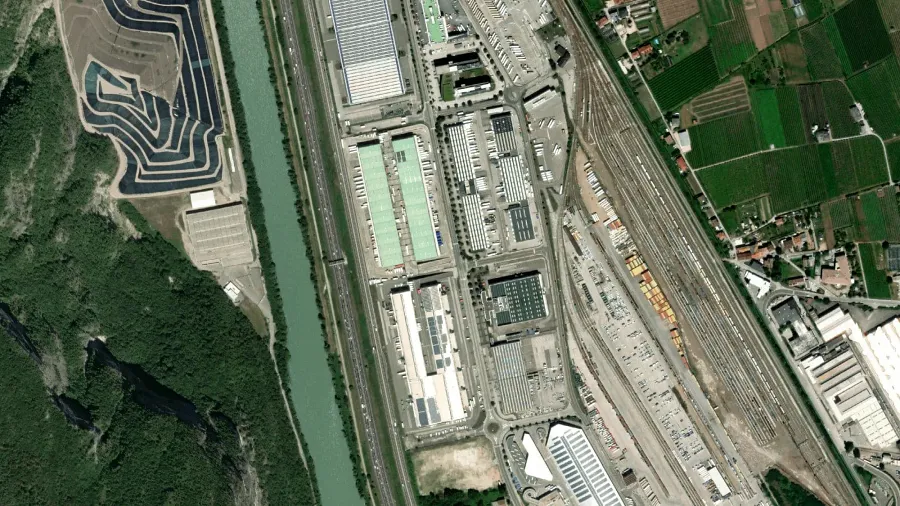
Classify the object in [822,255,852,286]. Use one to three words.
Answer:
building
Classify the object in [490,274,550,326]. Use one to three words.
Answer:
building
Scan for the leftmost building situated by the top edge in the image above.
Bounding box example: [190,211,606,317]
[330,0,405,105]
